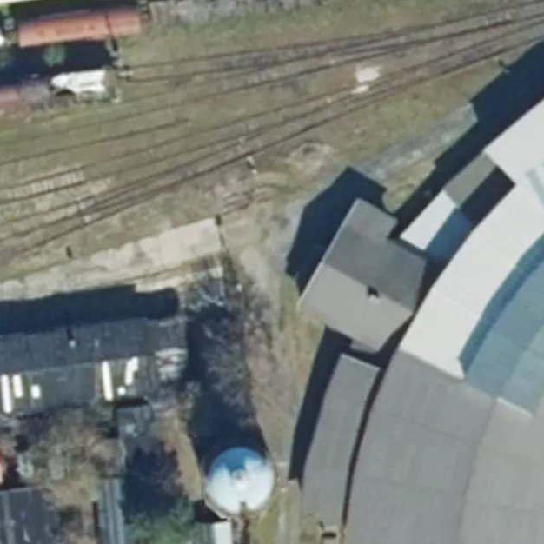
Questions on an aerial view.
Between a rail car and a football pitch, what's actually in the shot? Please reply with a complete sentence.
I can see a rail car in this picture.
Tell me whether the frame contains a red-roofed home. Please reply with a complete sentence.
No, no red-roofed home can be seen from above.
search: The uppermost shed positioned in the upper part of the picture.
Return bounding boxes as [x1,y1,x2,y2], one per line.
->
[445,153,510,221]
